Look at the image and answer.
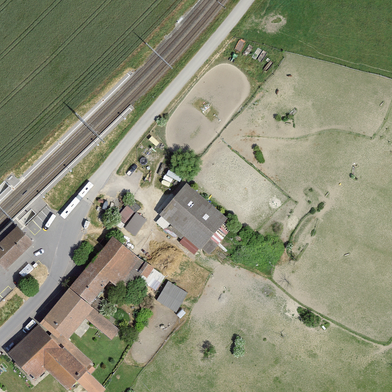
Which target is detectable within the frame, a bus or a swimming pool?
bus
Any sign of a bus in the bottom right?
No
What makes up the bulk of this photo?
farmland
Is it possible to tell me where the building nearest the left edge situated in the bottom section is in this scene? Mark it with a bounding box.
[0,224,32,270]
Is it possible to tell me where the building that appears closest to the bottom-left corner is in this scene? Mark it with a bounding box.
[8,324,62,383]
